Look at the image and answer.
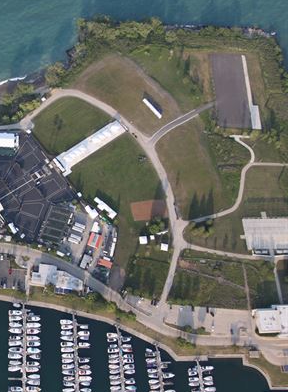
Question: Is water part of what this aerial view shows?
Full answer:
Yes, water can be seen from above here.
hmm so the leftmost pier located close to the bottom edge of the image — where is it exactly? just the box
[8,299,42,392]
